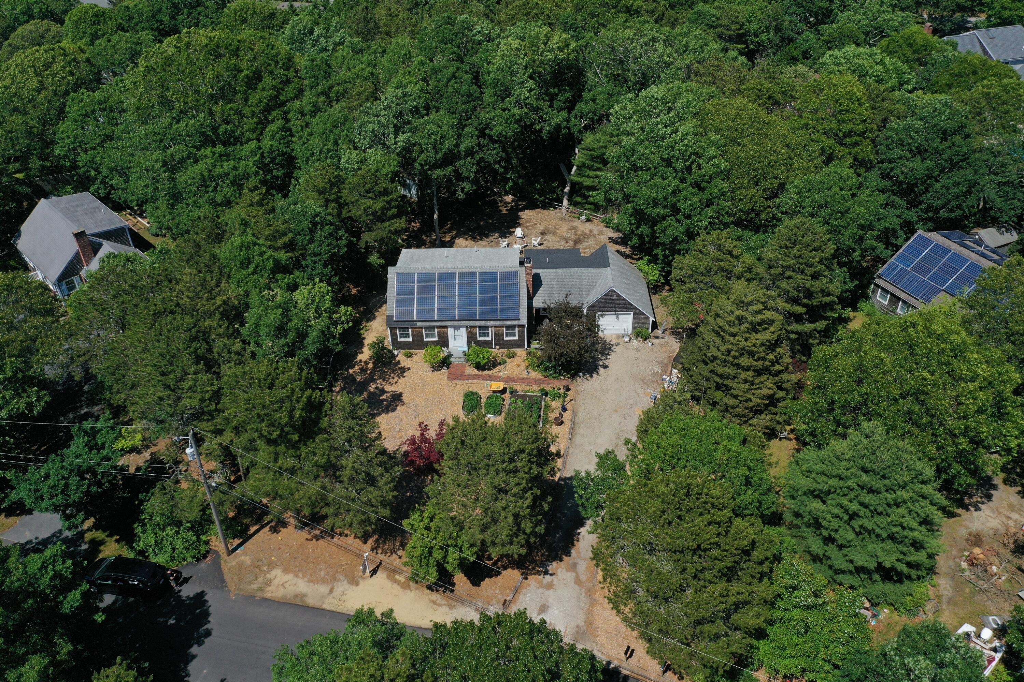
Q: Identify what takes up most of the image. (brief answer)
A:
trees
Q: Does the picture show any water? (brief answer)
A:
No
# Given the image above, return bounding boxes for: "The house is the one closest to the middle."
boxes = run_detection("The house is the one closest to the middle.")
[386,244,656,363]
